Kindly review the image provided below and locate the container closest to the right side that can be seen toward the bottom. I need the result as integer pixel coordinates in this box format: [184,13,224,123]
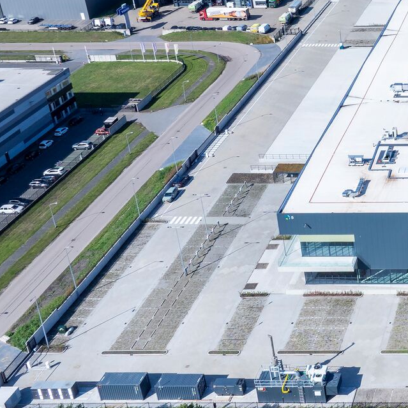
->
[156,373,210,400]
